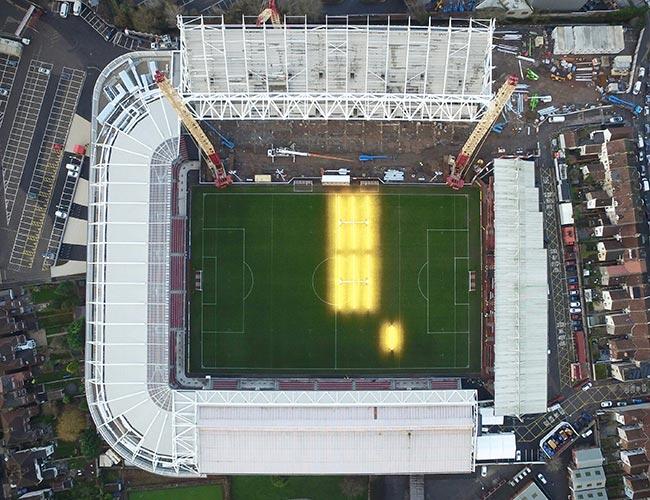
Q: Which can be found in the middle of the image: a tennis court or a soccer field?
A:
soccer field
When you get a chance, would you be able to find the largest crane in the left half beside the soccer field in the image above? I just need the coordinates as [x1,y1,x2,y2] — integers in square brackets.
[152,74,234,189]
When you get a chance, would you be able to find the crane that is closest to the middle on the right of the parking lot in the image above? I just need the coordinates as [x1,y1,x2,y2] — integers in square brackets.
[266,143,369,167]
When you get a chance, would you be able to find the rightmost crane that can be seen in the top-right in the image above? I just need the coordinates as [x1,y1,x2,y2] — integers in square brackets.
[446,77,519,189]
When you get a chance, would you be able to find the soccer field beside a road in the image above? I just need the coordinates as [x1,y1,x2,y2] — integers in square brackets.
[190,185,479,372]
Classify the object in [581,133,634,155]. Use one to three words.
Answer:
house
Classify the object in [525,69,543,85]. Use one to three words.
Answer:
work vehicle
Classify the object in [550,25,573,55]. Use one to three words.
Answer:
shed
